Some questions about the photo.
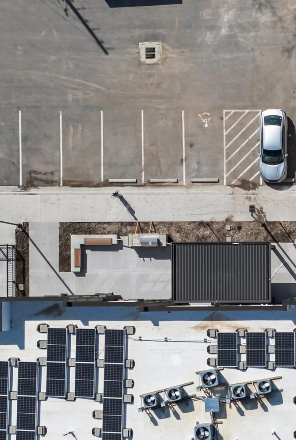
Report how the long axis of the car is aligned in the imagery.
up and down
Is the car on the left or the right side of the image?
right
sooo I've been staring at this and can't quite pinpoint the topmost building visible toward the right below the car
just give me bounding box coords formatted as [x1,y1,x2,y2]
[172,243,273,303]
